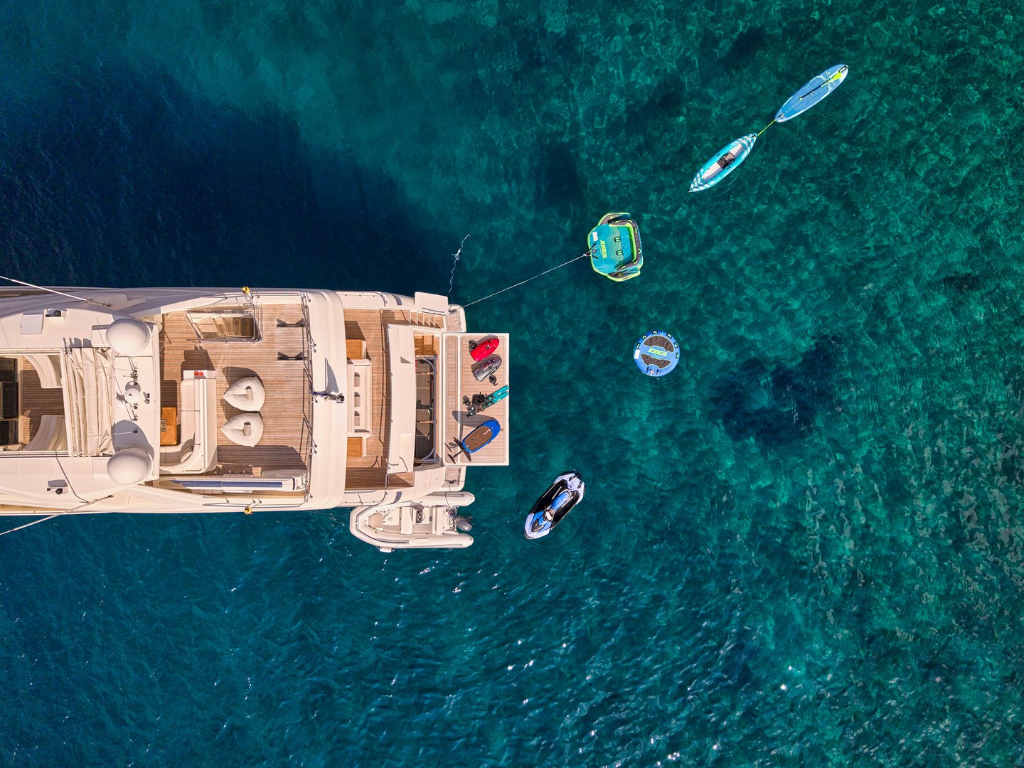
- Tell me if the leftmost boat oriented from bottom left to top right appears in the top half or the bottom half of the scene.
bottom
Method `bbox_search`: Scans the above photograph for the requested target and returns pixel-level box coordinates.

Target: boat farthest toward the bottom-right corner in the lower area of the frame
[524,469,585,539]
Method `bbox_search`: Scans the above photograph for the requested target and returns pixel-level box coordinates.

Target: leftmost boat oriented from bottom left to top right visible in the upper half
[689,133,757,193]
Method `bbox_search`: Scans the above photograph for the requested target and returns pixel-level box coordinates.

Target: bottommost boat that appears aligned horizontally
[349,491,472,549]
